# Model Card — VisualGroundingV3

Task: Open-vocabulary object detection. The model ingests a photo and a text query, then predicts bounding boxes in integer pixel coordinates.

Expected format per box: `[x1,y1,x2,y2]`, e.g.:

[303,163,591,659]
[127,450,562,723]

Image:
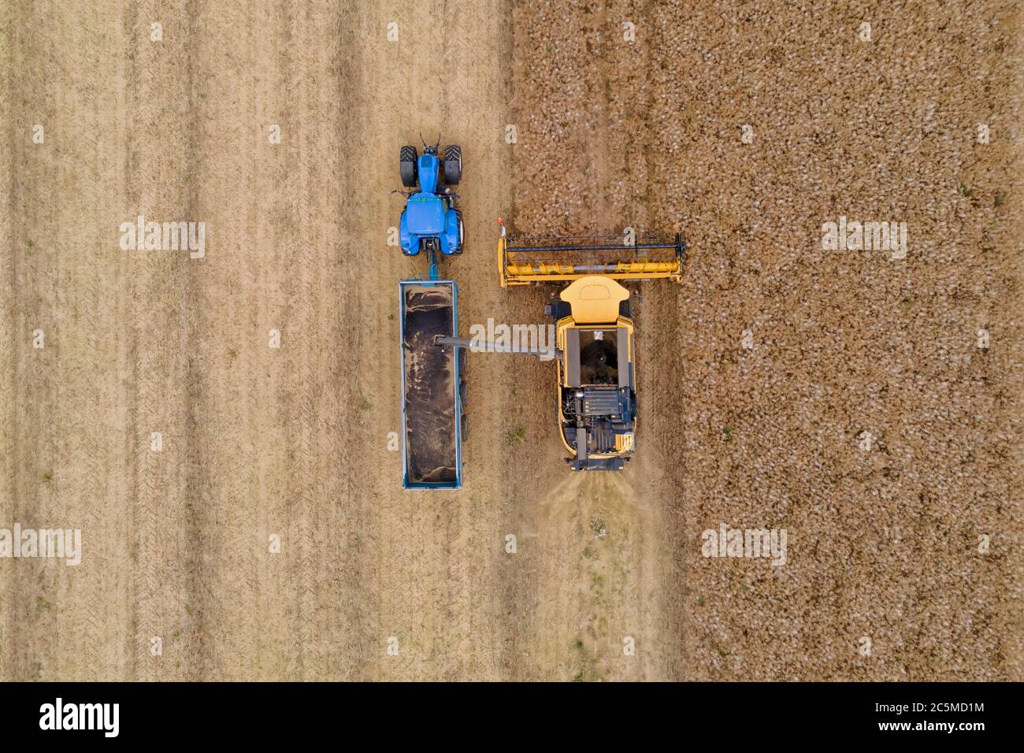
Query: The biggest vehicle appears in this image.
[435,218,684,471]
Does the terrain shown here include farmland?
Yes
